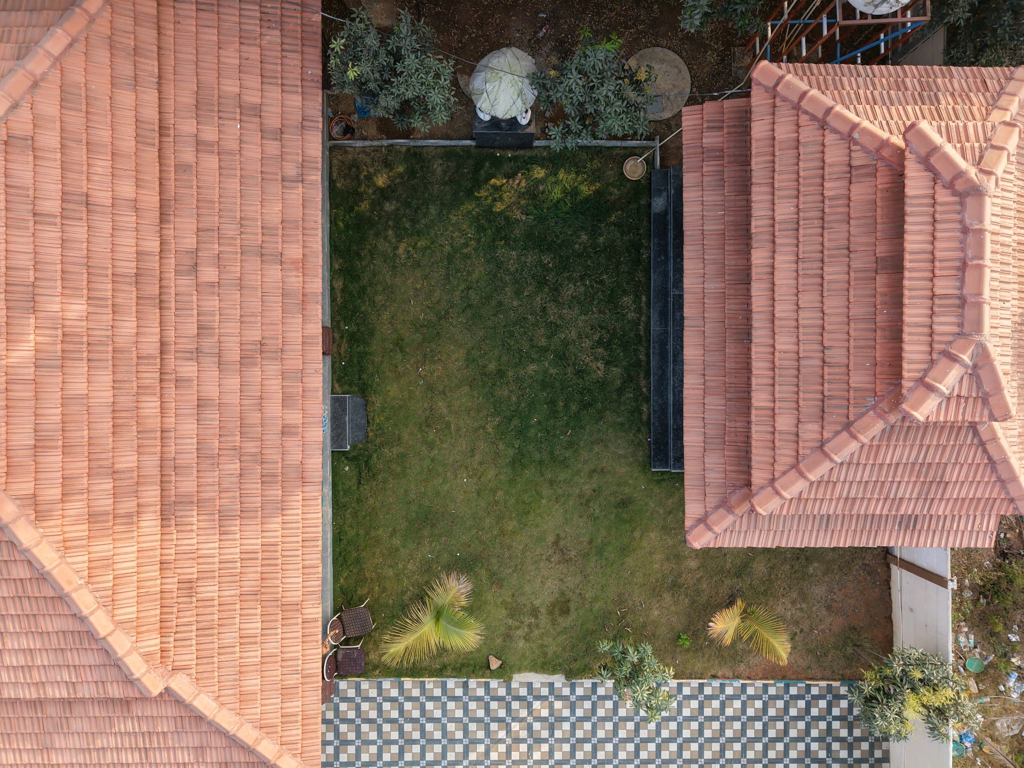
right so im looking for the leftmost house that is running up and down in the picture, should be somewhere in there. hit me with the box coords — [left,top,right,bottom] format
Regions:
[0,0,324,768]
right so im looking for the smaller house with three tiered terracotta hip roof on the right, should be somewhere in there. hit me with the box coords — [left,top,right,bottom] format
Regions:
[674,50,1024,559]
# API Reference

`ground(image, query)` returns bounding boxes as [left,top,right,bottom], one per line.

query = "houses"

[674,50,1024,559]
[0,0,324,768]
